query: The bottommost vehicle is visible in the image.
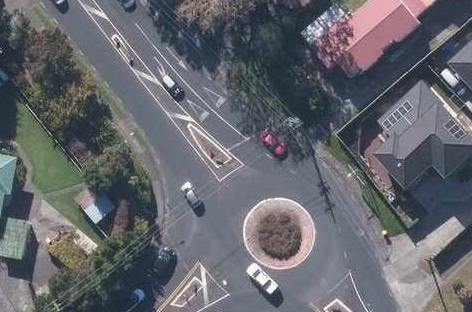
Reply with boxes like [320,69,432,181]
[119,288,146,312]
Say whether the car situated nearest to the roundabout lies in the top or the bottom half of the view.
bottom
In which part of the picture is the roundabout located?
bottom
